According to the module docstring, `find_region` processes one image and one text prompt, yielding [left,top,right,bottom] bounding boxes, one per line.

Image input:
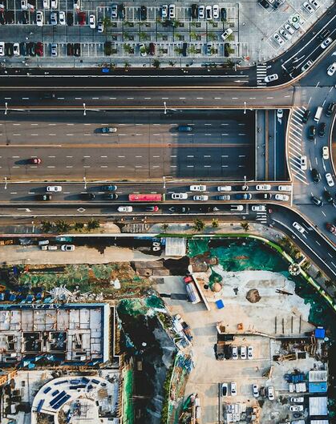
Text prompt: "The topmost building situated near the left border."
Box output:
[0,302,113,364]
